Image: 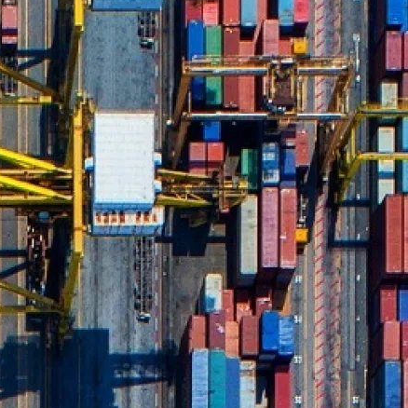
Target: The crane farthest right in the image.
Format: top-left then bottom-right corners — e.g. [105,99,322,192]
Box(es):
[339,100,408,211]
